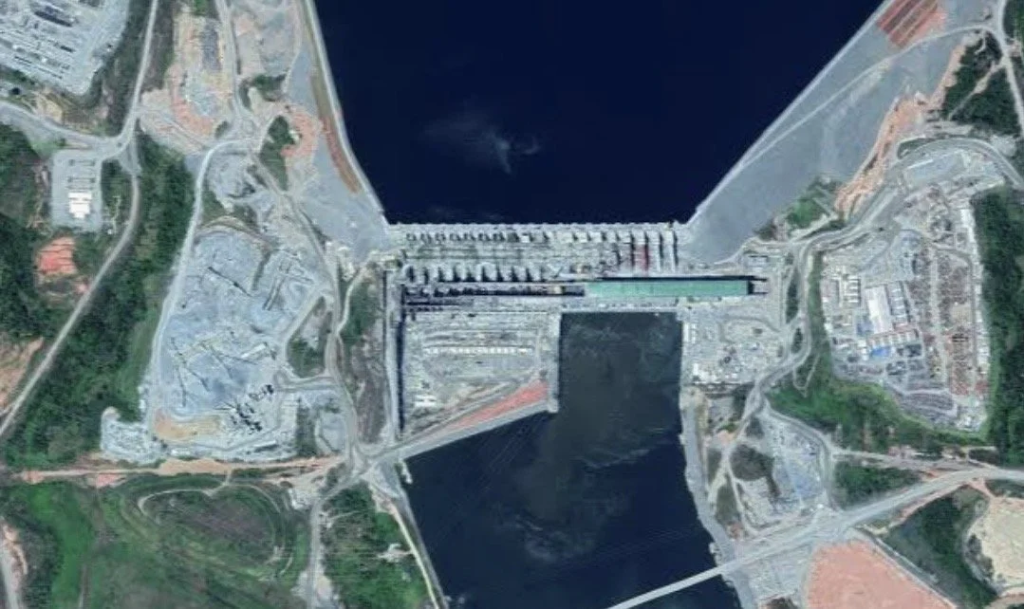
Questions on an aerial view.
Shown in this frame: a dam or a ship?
dam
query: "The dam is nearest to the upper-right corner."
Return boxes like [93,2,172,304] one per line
[687,0,928,267]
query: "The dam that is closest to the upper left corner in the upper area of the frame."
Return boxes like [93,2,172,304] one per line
[298,0,389,261]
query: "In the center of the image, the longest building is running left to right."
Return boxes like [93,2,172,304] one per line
[400,279,770,314]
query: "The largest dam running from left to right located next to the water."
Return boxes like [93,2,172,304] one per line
[387,223,689,285]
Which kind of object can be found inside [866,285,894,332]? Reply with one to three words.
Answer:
building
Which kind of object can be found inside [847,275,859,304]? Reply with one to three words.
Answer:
building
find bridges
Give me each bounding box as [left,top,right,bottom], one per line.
[605,558,739,609]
